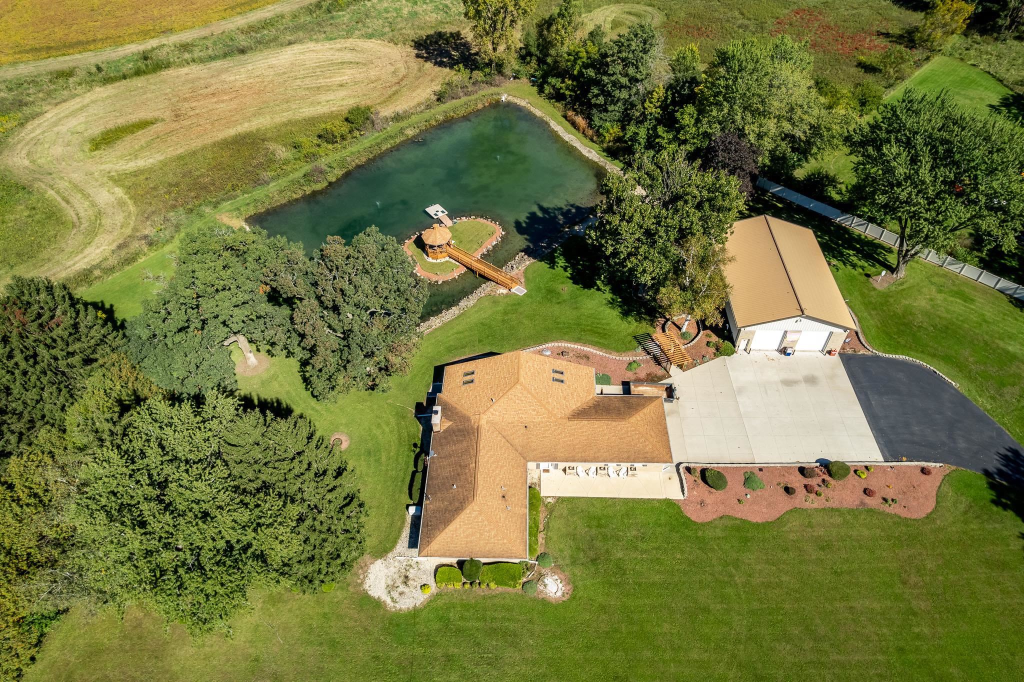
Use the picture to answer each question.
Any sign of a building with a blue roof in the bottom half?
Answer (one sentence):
No, looking in the bottom half, there is no building with a blue roof.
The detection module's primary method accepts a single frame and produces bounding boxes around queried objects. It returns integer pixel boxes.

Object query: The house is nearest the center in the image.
[416,350,675,565]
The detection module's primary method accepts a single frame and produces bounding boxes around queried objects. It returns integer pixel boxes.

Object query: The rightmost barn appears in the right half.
[709,214,857,352]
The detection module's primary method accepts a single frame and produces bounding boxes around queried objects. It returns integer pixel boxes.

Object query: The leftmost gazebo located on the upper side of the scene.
[421,225,453,259]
